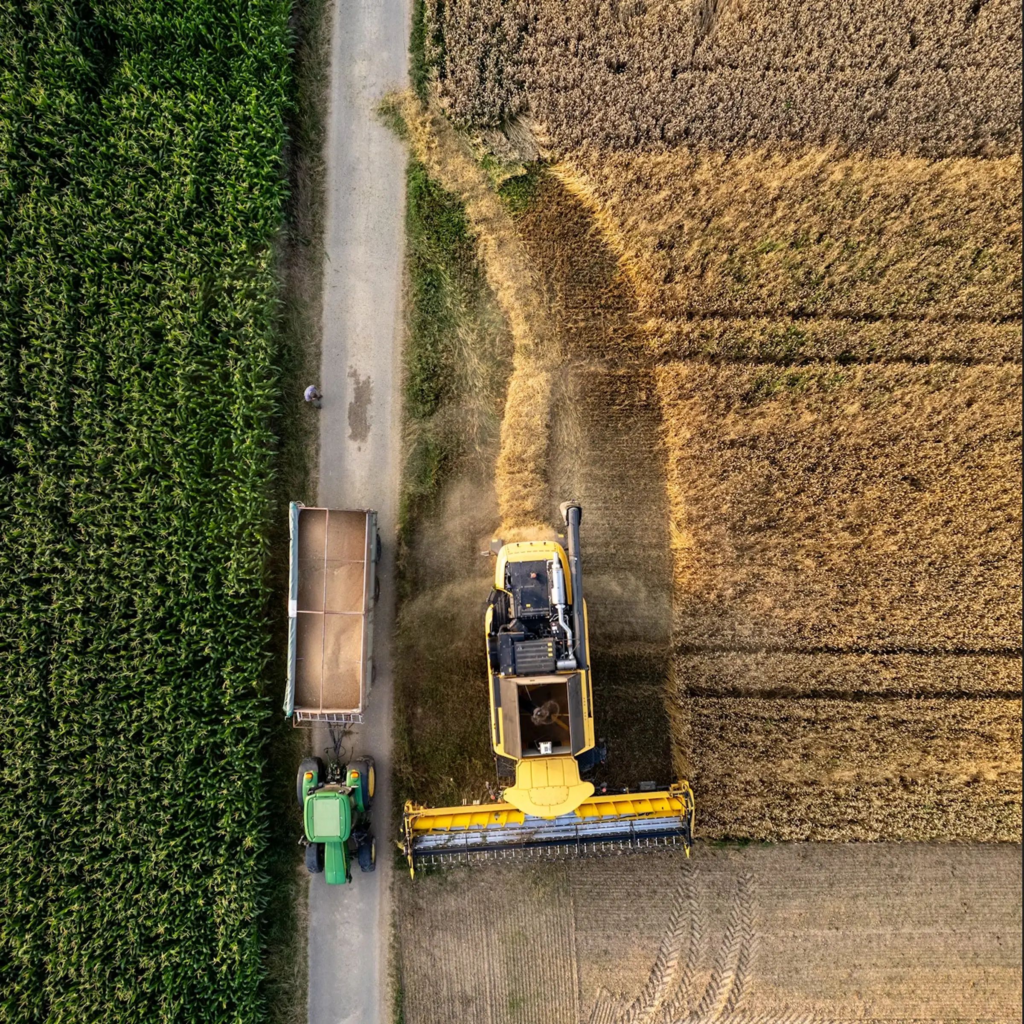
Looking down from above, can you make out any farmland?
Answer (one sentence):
Yes, farmland shows up in the scene.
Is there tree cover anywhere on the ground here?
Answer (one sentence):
No, the picture contains no tree cover.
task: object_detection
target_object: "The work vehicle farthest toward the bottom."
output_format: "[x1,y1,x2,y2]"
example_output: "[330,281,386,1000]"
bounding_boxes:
[298,745,378,885]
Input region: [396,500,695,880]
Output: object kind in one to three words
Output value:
work vehicle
